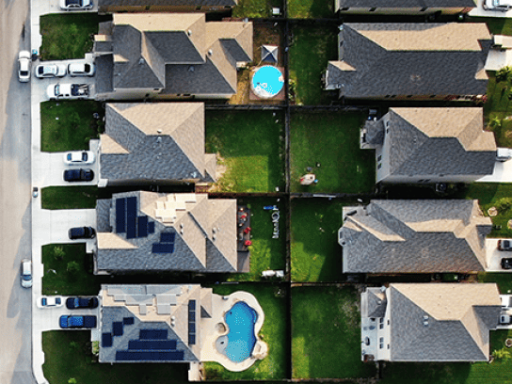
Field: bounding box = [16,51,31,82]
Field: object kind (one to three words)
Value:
car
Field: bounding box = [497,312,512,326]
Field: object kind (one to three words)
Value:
car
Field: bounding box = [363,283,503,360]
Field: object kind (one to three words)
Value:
house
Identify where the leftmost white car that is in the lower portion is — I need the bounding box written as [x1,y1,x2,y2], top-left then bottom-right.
[19,259,33,287]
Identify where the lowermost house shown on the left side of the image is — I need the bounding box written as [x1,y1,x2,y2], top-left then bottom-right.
[99,284,213,363]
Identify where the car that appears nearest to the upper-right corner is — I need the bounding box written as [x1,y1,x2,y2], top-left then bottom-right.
[481,0,512,13]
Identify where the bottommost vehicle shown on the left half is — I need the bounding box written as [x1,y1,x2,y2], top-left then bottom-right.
[59,313,97,329]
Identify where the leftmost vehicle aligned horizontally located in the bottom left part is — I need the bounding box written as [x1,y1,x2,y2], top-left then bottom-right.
[34,294,65,309]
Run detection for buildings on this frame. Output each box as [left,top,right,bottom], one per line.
[339,198,493,273]
[325,21,490,99]
[100,101,215,186]
[97,0,235,11]
[99,284,213,363]
[95,12,253,99]
[95,190,237,273]
[363,283,503,360]
[332,0,476,13]
[360,106,500,183]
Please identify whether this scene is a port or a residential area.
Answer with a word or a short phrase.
residential area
